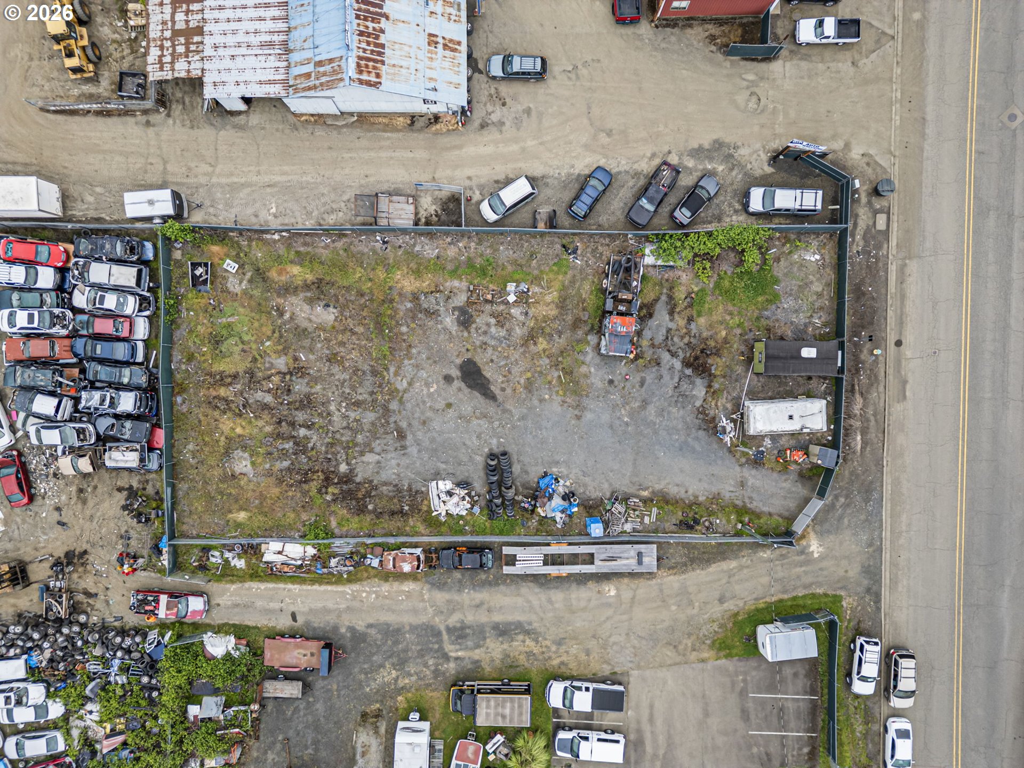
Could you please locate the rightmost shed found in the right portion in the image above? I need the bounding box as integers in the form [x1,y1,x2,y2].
[804,444,840,469]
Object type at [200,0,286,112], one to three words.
barn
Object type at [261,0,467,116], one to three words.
shed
